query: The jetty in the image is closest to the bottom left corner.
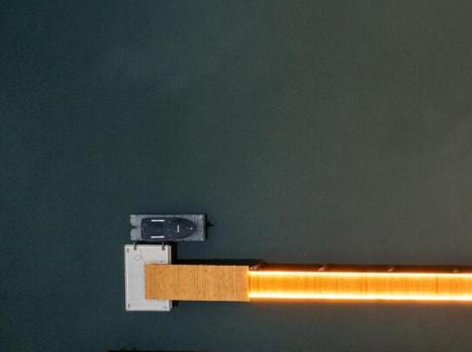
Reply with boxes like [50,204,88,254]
[126,243,175,311]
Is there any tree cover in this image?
No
